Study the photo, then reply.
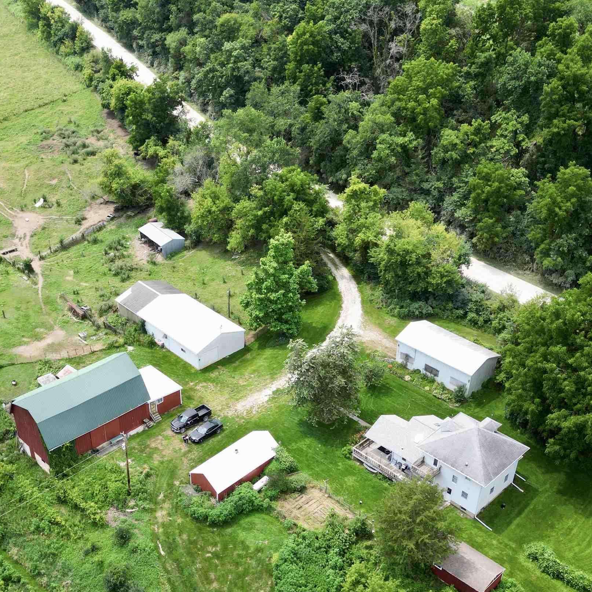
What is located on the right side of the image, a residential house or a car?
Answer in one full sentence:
Visible on the right side of the image is a residential house.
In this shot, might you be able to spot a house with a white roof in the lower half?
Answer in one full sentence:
Yes, you'll find a house with a white roof in the lower half.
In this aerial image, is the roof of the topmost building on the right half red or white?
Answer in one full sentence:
The roof of the topmost building on the right half looks white in the image.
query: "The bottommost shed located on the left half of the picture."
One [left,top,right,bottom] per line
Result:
[189,430,281,498]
